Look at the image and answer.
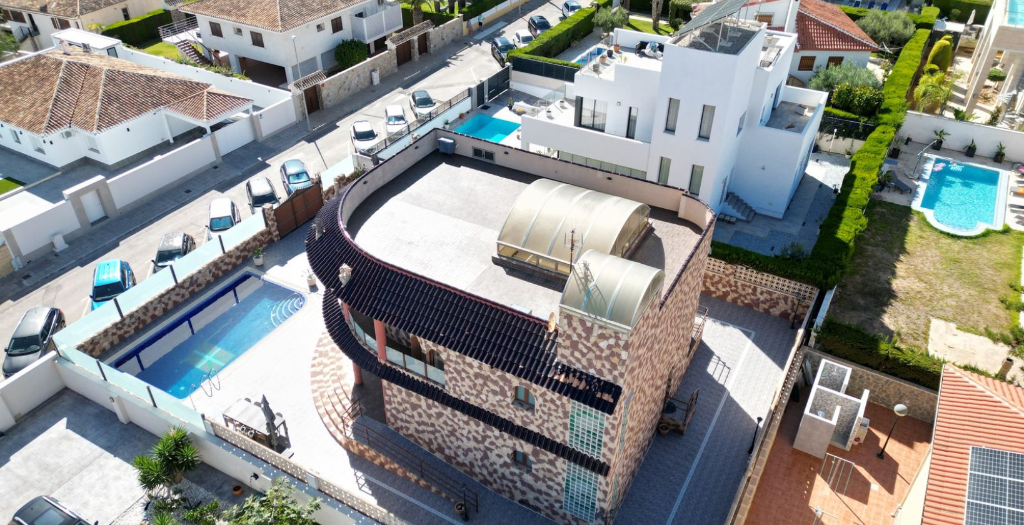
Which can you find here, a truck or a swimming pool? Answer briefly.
swimming pool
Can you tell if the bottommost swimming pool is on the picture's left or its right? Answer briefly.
left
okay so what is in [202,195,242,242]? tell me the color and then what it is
white car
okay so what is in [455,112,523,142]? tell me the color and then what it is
blue swimming pool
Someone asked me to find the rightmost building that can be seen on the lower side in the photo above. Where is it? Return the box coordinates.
[918,357,1024,525]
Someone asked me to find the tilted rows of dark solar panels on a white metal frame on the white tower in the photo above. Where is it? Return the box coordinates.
[671,0,752,48]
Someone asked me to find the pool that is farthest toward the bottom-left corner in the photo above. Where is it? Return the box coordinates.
[99,261,327,407]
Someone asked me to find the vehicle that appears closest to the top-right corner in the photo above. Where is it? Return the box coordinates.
[557,1,582,21]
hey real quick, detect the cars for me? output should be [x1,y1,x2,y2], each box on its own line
[247,178,282,215]
[202,195,242,242]
[412,92,441,125]
[153,233,195,272]
[488,43,512,69]
[353,125,385,154]
[385,107,414,141]
[283,160,317,192]
[557,1,582,21]
[510,33,532,51]
[1,307,67,375]
[90,251,137,314]
[524,17,551,39]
